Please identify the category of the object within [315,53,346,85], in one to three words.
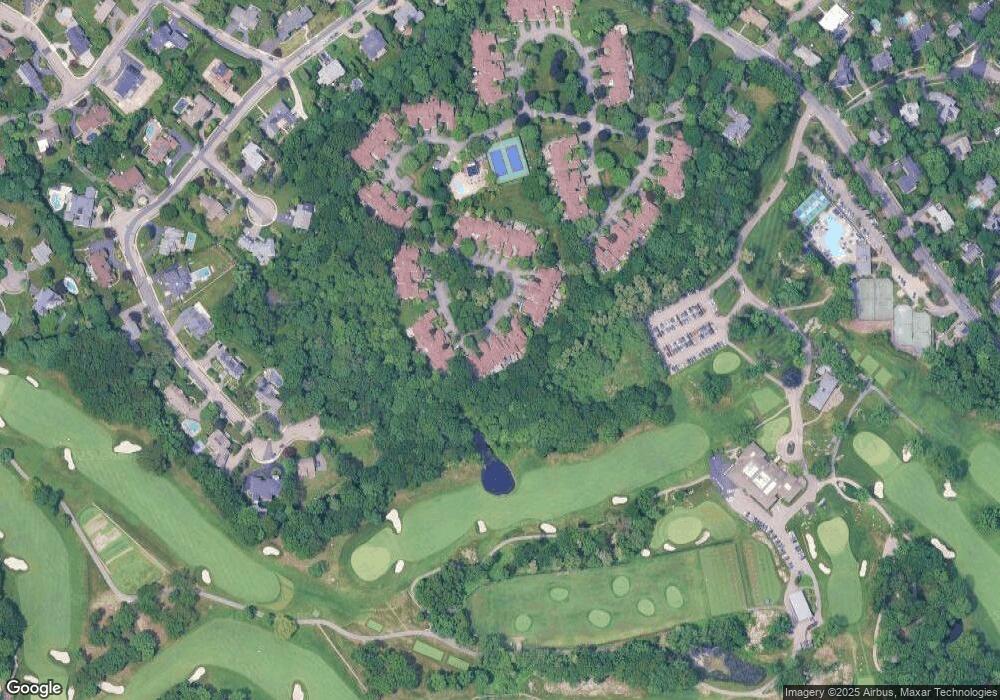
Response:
house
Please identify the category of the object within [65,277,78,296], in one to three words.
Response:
swimming pool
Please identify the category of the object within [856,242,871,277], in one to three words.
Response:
building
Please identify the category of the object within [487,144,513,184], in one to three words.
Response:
tennis court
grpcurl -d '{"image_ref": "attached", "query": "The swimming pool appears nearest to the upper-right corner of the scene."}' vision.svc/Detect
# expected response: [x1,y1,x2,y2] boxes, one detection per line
[896,11,918,30]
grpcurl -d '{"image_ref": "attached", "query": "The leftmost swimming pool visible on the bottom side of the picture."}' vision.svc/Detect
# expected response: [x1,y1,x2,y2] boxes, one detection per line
[183,417,201,436]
